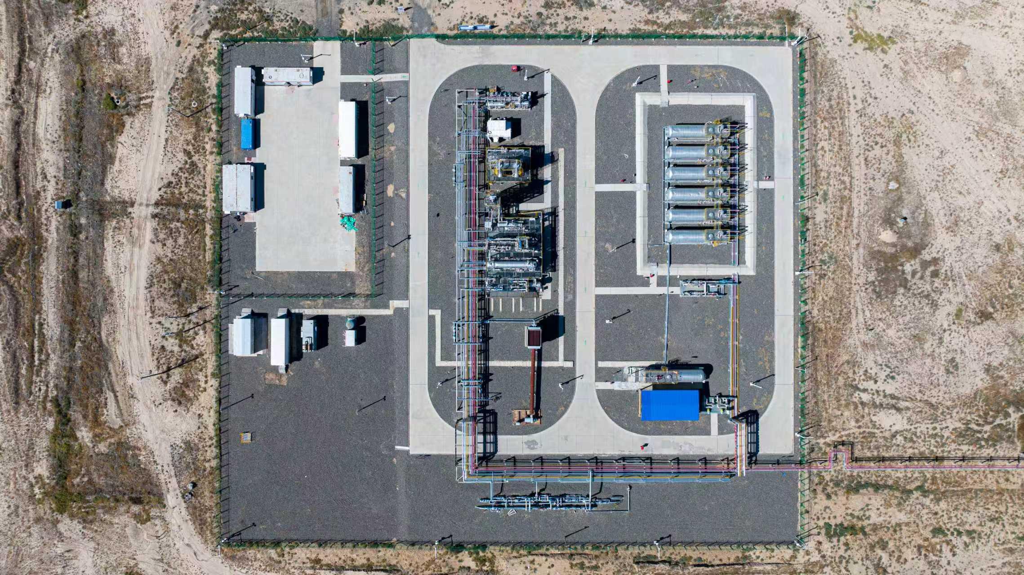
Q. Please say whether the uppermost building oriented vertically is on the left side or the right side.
left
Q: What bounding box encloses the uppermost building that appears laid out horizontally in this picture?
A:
[262,67,314,86]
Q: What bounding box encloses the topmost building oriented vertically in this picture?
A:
[235,66,256,117]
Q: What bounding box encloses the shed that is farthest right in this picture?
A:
[638,388,699,421]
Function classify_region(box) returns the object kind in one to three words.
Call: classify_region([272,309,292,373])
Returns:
house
